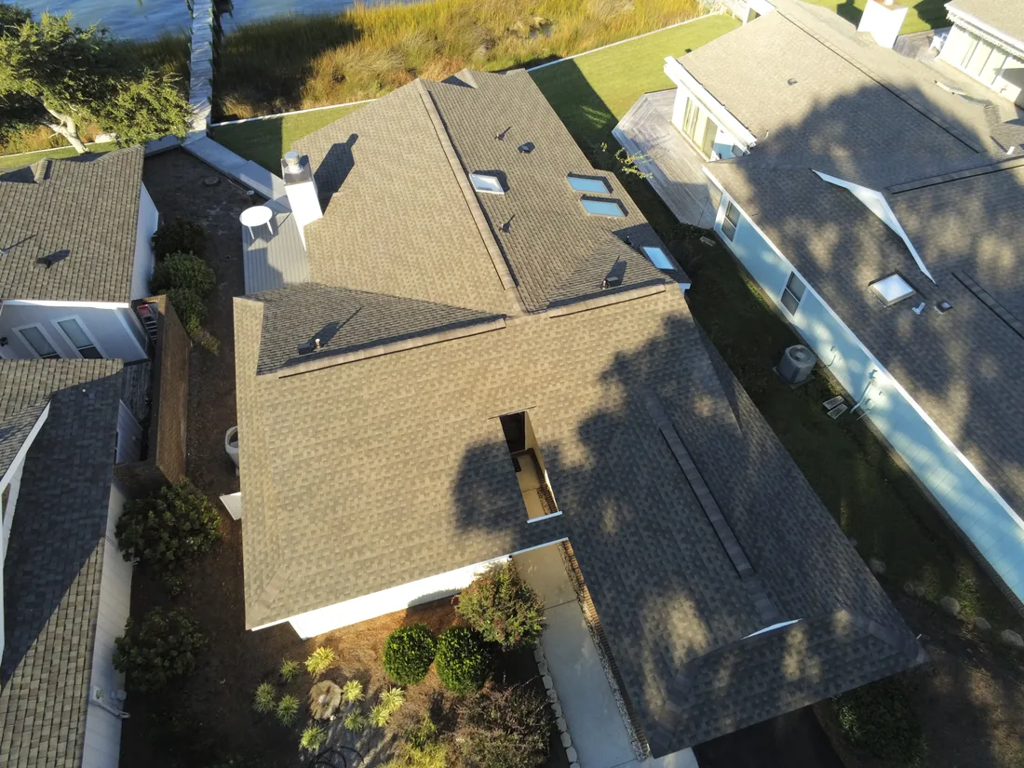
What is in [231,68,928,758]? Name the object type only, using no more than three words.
house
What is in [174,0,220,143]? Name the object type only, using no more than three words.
pier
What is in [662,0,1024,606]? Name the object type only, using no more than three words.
house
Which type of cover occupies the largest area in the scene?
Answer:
buildings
